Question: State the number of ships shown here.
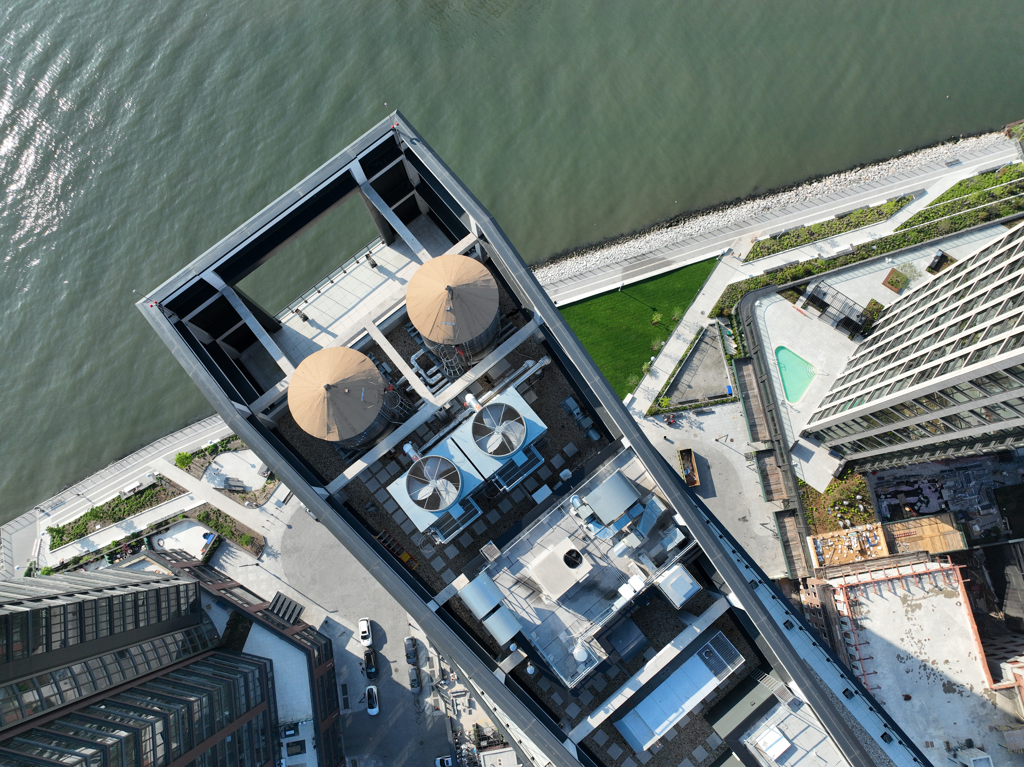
none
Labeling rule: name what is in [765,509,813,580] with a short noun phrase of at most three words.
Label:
shed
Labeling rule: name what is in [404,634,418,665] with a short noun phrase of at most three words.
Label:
car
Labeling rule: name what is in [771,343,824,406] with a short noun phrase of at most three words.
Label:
swimming pool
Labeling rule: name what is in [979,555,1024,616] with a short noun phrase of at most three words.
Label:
shed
